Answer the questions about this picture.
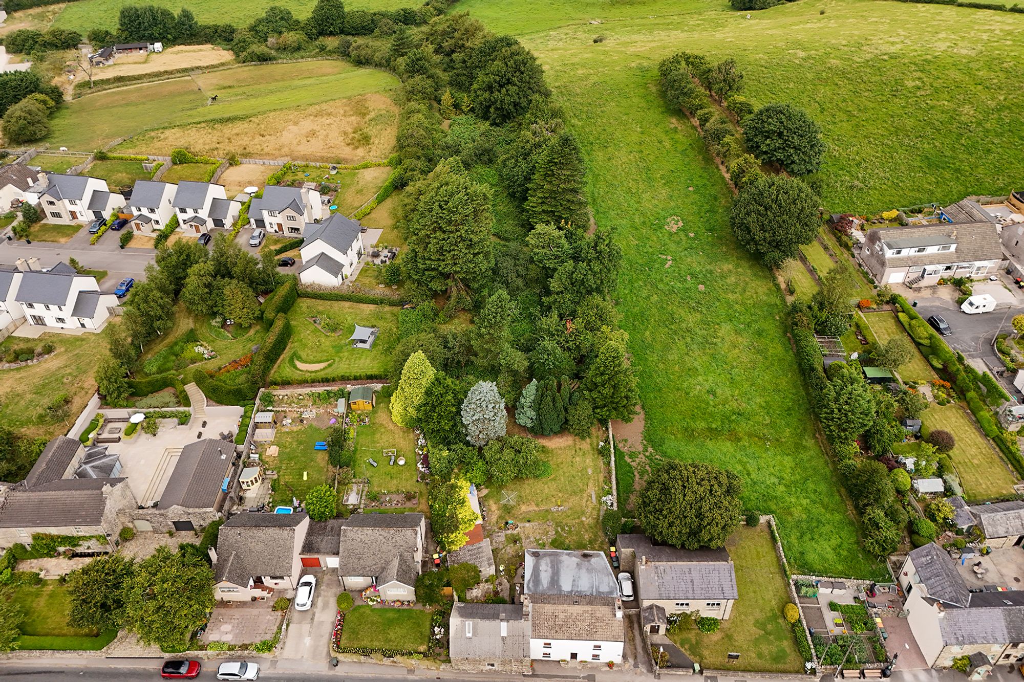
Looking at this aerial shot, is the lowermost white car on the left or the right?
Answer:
left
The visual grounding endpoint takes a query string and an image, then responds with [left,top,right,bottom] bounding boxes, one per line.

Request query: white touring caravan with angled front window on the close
[960,293,998,313]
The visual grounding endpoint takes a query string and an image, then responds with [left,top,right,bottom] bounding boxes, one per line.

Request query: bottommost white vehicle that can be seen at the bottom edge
[215,660,261,682]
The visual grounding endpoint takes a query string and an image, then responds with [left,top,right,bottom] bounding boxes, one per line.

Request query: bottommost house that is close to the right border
[907,590,1024,676]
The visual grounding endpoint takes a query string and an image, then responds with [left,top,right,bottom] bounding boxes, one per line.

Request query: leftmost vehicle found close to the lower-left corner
[160,658,202,679]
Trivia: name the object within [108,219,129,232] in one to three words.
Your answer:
vehicle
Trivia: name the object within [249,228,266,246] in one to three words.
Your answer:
car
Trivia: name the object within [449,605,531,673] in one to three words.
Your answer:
barn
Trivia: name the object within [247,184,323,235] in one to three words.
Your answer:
house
